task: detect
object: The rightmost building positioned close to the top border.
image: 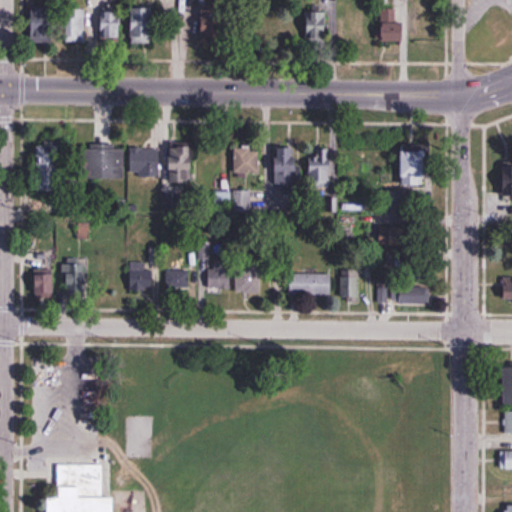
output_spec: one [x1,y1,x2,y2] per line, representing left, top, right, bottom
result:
[380,8,402,42]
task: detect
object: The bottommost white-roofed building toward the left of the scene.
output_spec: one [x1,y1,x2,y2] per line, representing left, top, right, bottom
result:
[46,464,112,512]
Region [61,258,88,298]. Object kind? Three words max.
house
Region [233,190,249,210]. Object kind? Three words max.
building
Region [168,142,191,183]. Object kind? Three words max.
house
